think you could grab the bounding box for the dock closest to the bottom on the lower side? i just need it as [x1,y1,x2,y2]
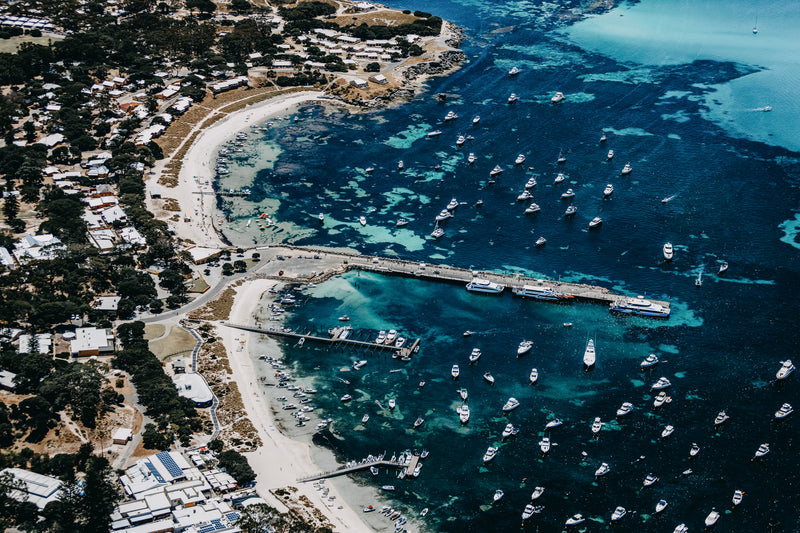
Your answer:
[298,454,420,484]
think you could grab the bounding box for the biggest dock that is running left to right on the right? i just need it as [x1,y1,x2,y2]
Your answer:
[338,256,669,306]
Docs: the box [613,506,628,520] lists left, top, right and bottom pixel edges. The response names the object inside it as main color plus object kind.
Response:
white boat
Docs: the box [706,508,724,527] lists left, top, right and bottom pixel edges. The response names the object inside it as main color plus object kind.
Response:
white boat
